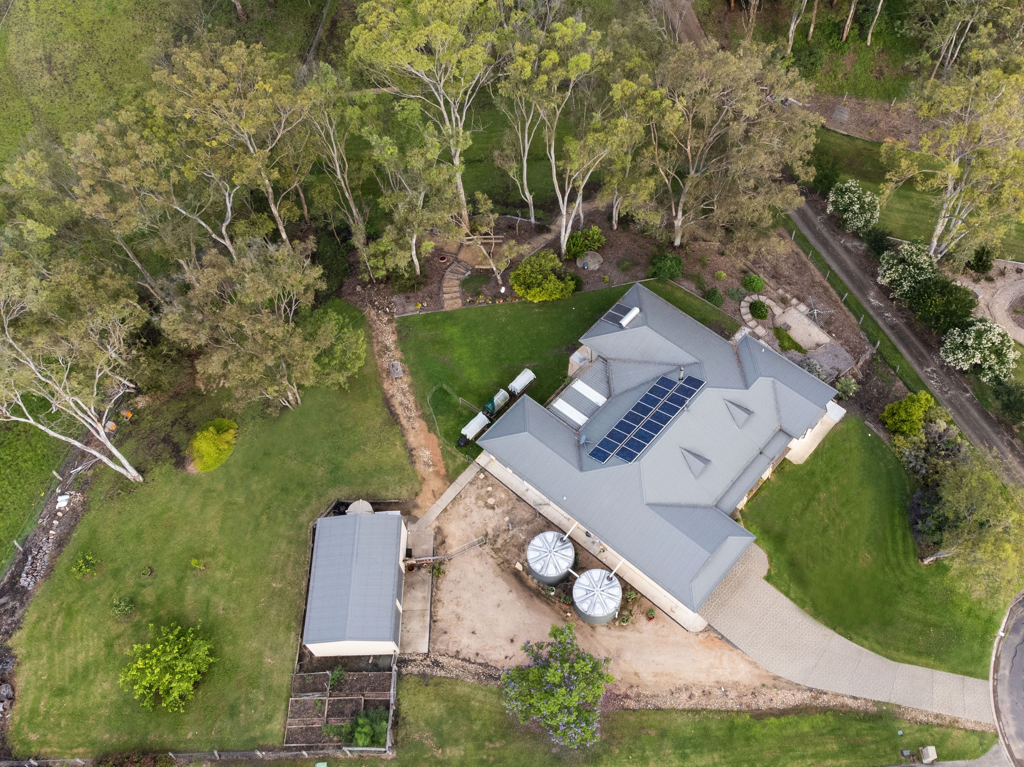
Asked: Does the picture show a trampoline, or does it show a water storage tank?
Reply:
water storage tank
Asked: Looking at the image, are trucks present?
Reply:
No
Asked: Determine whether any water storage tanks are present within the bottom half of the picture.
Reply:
Yes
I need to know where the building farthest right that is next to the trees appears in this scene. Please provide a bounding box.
[475,282,838,616]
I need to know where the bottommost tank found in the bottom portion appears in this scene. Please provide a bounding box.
[571,560,624,624]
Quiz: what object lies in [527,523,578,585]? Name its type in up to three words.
water tank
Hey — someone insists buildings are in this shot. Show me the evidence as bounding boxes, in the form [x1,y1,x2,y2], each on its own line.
[302,512,407,654]
[475,282,838,616]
